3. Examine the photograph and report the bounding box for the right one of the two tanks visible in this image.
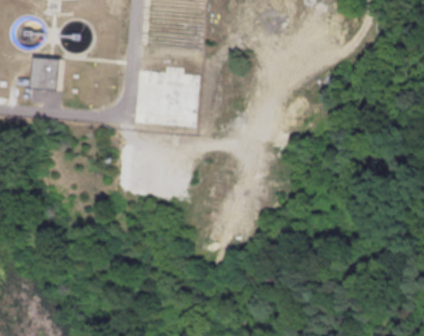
[58,18,96,56]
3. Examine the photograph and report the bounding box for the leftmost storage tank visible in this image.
[9,14,48,52]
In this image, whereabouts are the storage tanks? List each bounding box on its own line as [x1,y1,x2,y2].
[58,18,96,56]
[9,14,48,52]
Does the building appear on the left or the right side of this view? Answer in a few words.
left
